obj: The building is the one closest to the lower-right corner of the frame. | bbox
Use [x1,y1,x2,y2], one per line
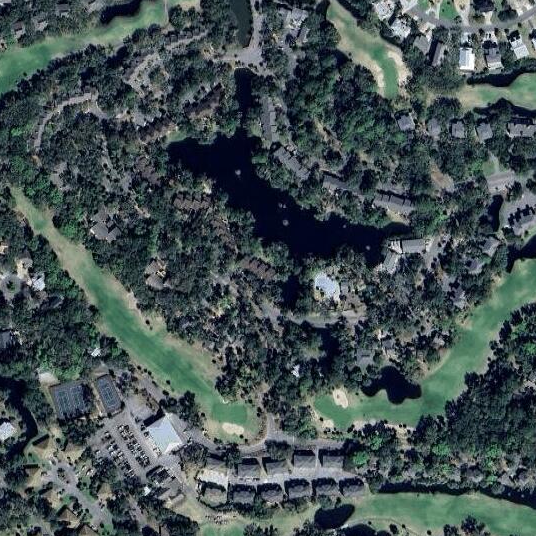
[343,483,366,499]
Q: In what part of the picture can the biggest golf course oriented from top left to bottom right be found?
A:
left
